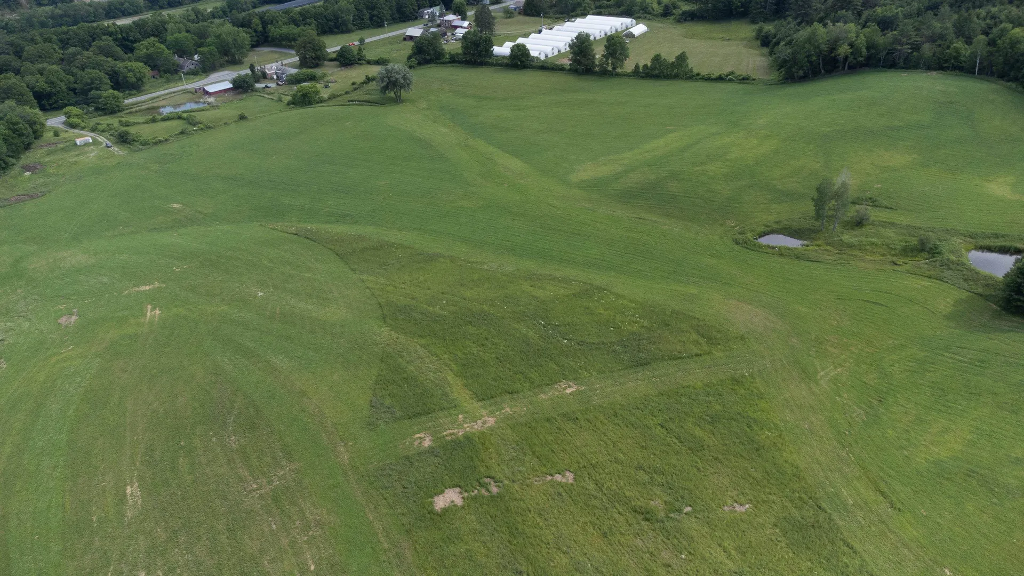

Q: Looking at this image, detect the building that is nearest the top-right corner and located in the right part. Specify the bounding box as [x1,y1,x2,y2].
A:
[623,22,655,38]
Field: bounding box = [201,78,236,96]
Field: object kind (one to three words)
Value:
barn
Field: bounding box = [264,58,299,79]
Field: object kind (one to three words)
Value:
house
